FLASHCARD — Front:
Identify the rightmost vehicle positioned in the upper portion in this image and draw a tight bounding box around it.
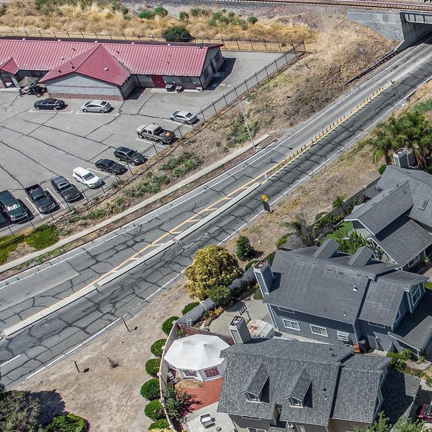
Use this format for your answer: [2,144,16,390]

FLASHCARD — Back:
[168,109,197,125]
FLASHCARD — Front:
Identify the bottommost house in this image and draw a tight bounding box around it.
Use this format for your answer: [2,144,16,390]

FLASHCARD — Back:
[217,317,421,432]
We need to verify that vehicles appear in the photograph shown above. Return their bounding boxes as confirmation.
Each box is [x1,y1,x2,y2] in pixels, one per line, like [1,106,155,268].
[69,166,101,189]
[51,177,80,201]
[0,196,25,221]
[136,124,173,145]
[168,109,197,125]
[22,187,54,213]
[417,405,432,423]
[32,97,64,110]
[80,99,111,112]
[113,145,144,165]
[93,157,125,177]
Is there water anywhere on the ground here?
No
